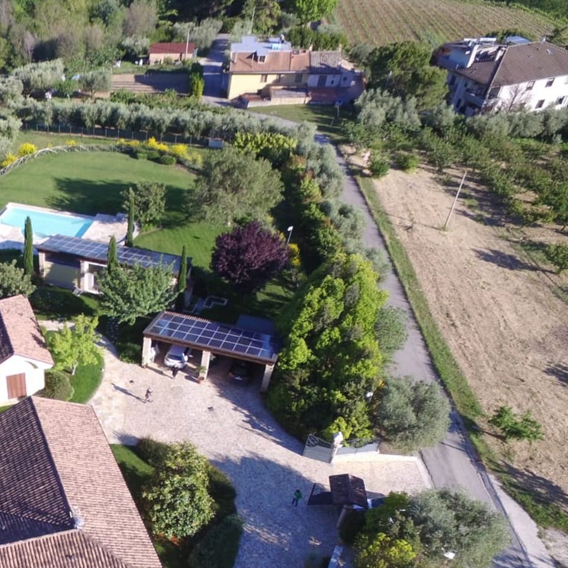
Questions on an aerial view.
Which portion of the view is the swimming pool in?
left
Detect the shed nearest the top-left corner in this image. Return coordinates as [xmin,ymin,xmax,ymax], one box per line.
[148,39,198,69]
